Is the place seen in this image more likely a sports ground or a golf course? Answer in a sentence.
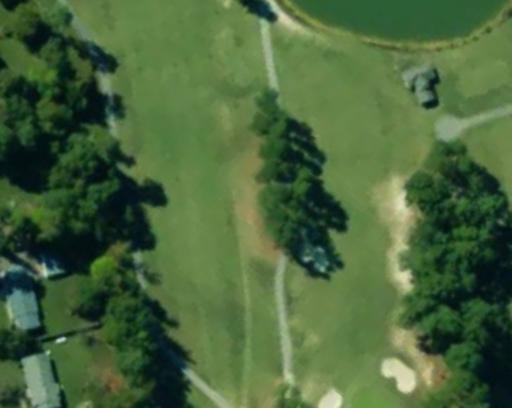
The picture captures a golf course.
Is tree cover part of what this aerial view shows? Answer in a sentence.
Yes, tree cover shows up in the scene.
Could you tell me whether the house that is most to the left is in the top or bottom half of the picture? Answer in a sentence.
The house that is most to the left sits in the bottom half of the picture.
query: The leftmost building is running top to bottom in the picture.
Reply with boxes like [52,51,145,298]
[3,268,40,329]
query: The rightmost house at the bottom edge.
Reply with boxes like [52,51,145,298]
[23,350,62,408]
